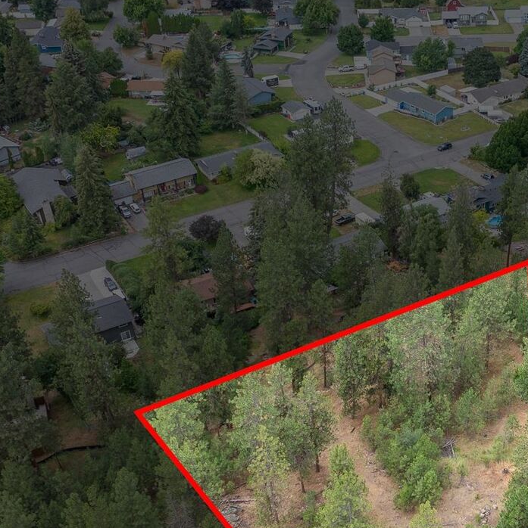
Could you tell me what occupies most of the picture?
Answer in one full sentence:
What you mostly see from above here is trees.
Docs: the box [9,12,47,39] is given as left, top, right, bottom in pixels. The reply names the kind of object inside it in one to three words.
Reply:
house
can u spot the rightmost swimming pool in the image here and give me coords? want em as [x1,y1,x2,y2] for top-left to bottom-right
[485,210,504,227]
